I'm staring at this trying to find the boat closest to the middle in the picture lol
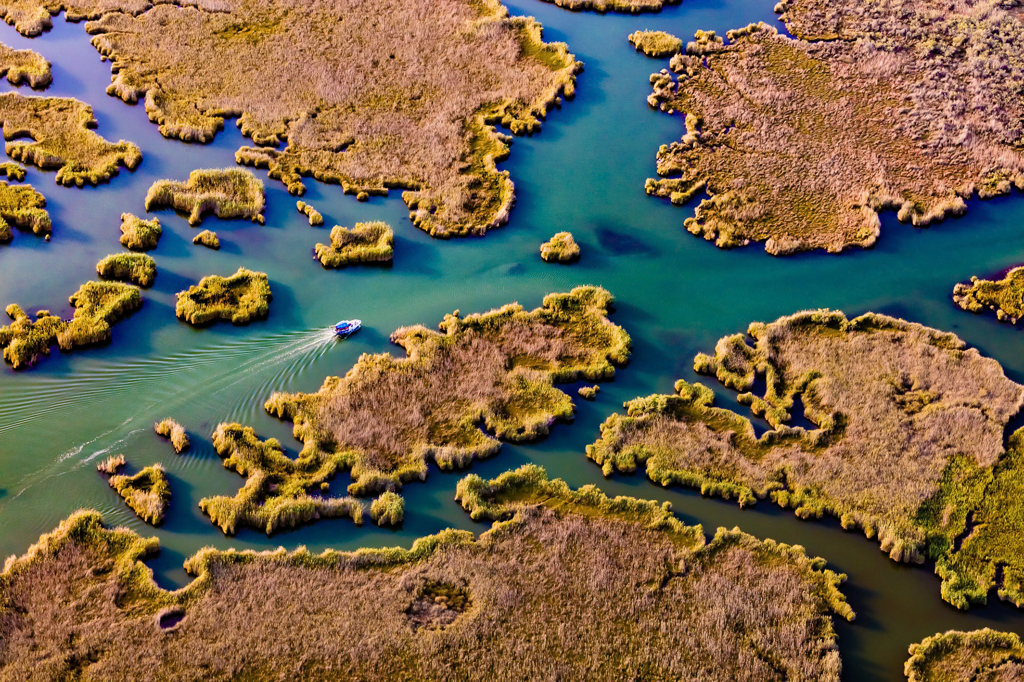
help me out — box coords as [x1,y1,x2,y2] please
[329,320,360,340]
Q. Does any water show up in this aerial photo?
Yes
